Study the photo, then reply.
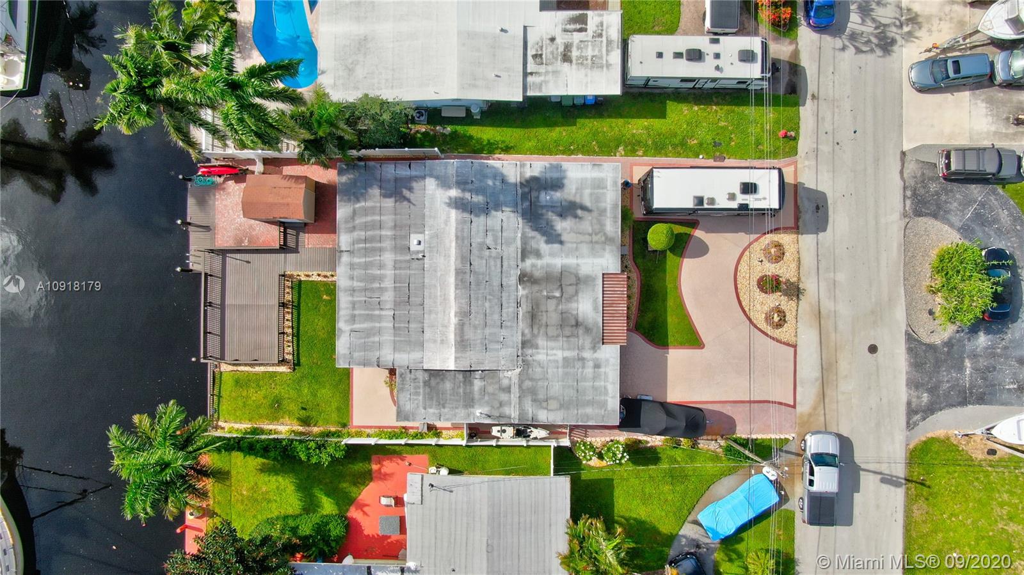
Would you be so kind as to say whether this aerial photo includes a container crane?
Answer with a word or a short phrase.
No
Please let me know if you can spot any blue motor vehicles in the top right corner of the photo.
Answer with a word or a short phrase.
Yes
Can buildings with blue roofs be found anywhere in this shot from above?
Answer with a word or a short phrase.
No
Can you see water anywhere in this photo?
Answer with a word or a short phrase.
Yes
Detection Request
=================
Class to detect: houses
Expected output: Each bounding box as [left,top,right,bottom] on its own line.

[317,0,622,104]
[404,470,571,575]
[336,159,627,425]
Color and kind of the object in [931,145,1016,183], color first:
gray car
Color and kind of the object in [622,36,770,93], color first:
white vehicle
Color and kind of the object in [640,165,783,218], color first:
white camper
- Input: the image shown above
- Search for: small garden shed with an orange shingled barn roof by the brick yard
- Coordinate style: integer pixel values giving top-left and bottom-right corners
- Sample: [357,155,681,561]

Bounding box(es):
[242,176,316,221]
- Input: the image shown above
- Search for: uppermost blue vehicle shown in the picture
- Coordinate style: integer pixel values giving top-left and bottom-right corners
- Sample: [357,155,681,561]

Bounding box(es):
[800,0,836,30]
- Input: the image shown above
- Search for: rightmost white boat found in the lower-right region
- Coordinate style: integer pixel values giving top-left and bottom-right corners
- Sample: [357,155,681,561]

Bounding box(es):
[987,410,1024,443]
